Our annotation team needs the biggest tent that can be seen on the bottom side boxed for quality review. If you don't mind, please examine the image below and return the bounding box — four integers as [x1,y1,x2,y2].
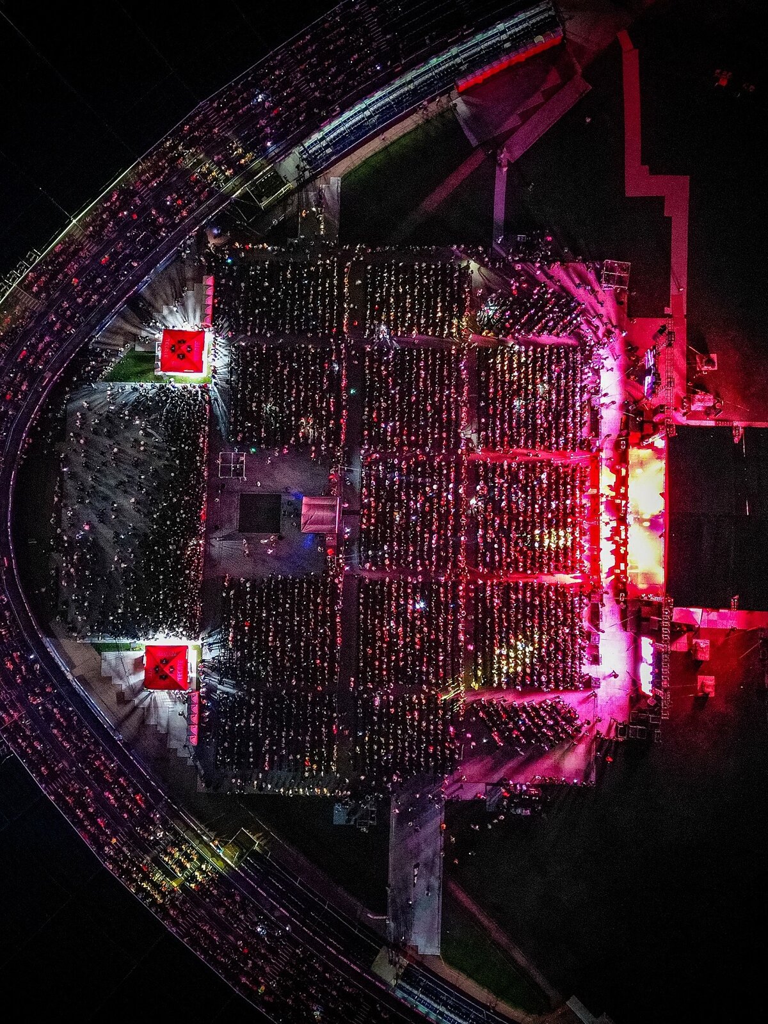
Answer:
[145,641,196,690]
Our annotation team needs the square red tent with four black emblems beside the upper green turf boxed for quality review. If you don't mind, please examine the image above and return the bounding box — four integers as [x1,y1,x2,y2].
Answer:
[156,329,211,377]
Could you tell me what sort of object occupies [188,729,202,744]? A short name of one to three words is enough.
gazebo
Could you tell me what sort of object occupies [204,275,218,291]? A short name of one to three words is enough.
gazebo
